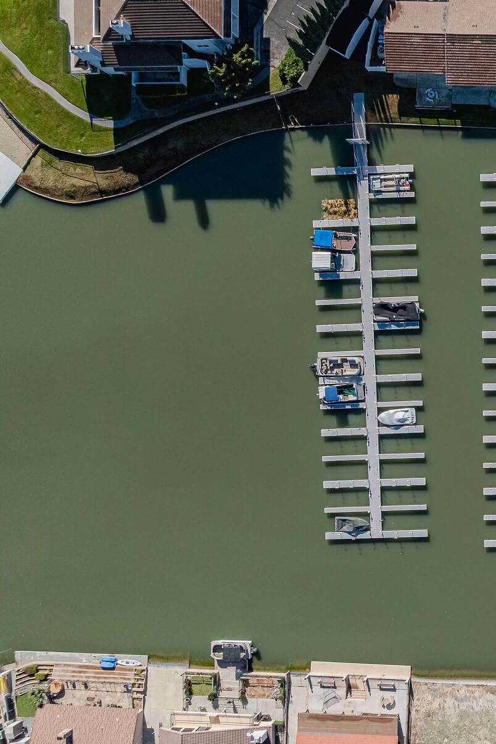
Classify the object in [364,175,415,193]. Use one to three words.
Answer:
boat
